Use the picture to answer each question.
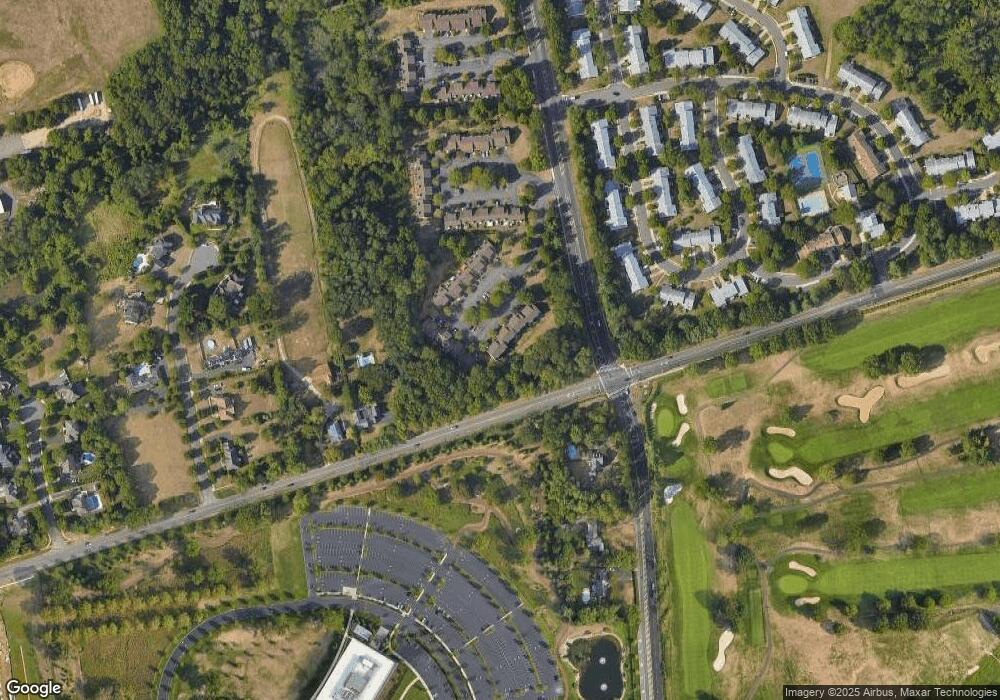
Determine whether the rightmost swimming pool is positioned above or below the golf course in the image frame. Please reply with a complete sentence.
From this view, the rightmost swimming pool can be seen above the golf course.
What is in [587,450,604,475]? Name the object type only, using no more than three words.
house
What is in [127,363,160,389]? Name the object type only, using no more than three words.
house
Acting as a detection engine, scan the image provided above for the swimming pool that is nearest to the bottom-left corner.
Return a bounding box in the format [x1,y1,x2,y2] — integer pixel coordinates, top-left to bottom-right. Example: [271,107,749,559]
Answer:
[82,491,103,513]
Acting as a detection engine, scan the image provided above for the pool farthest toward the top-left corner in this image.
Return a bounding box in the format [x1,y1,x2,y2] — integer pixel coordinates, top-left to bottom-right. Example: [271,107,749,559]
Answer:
[132,254,148,273]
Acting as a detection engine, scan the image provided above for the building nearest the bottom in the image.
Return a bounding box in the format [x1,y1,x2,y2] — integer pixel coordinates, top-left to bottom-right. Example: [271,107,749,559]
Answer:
[317,638,395,700]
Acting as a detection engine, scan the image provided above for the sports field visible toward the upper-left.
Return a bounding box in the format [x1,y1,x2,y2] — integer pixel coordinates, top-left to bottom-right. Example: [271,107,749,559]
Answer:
[0,58,38,103]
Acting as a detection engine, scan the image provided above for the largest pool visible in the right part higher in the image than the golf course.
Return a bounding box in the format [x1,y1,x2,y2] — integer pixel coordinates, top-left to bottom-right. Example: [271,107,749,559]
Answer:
[797,189,831,217]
